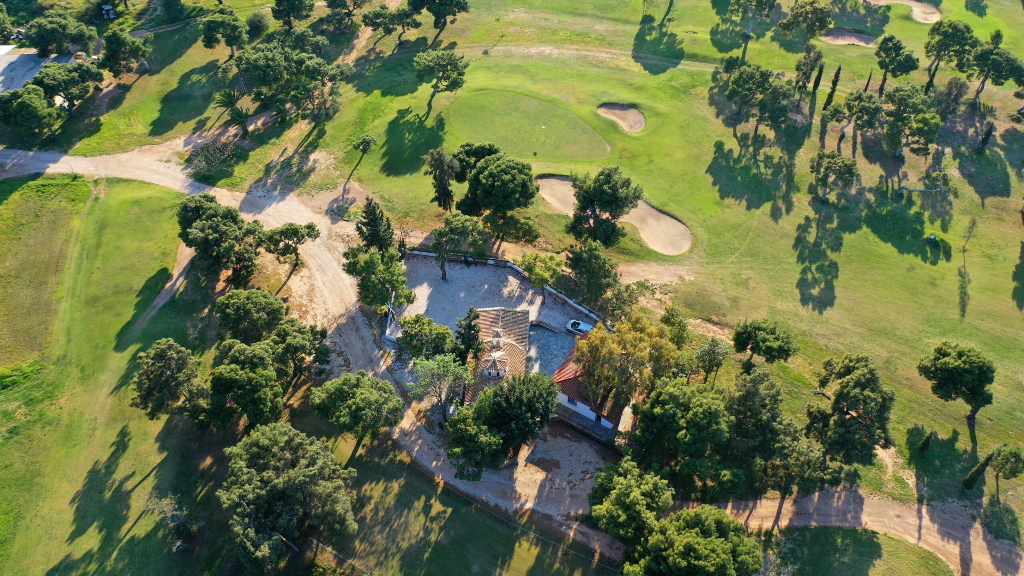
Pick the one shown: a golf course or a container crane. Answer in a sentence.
The one in the frame is a golf course.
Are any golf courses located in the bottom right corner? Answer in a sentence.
No, looking in the bottom right corner, there is no golf course.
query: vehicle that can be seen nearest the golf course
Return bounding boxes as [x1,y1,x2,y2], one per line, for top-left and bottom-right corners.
[565,321,590,338]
